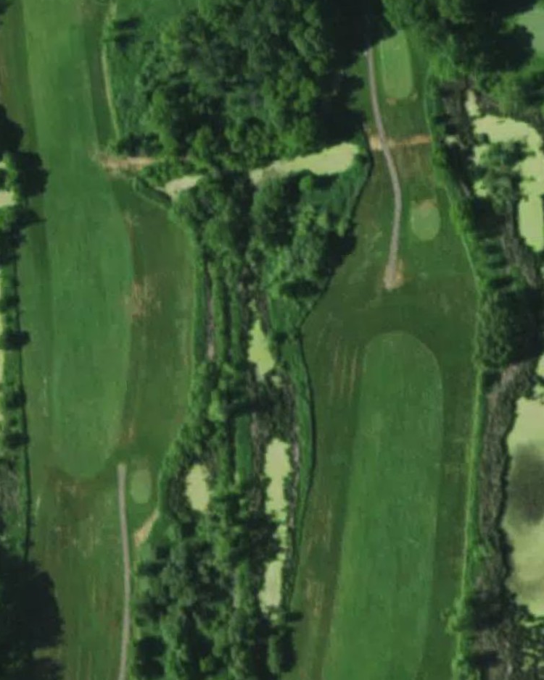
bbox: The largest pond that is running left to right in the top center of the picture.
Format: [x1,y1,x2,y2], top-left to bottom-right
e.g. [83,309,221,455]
[246,143,358,187]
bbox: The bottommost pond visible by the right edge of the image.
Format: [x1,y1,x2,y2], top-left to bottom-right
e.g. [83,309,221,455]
[504,388,544,619]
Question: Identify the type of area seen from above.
golf course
